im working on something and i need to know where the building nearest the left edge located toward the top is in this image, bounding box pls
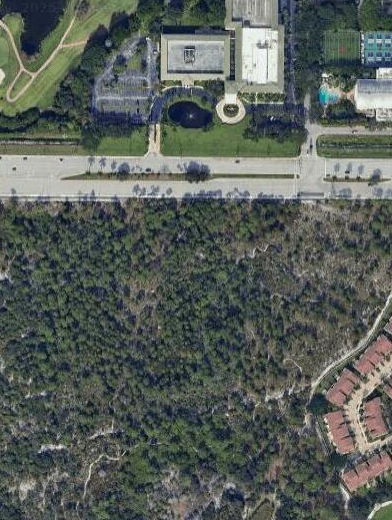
[160,34,230,80]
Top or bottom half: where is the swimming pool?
top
